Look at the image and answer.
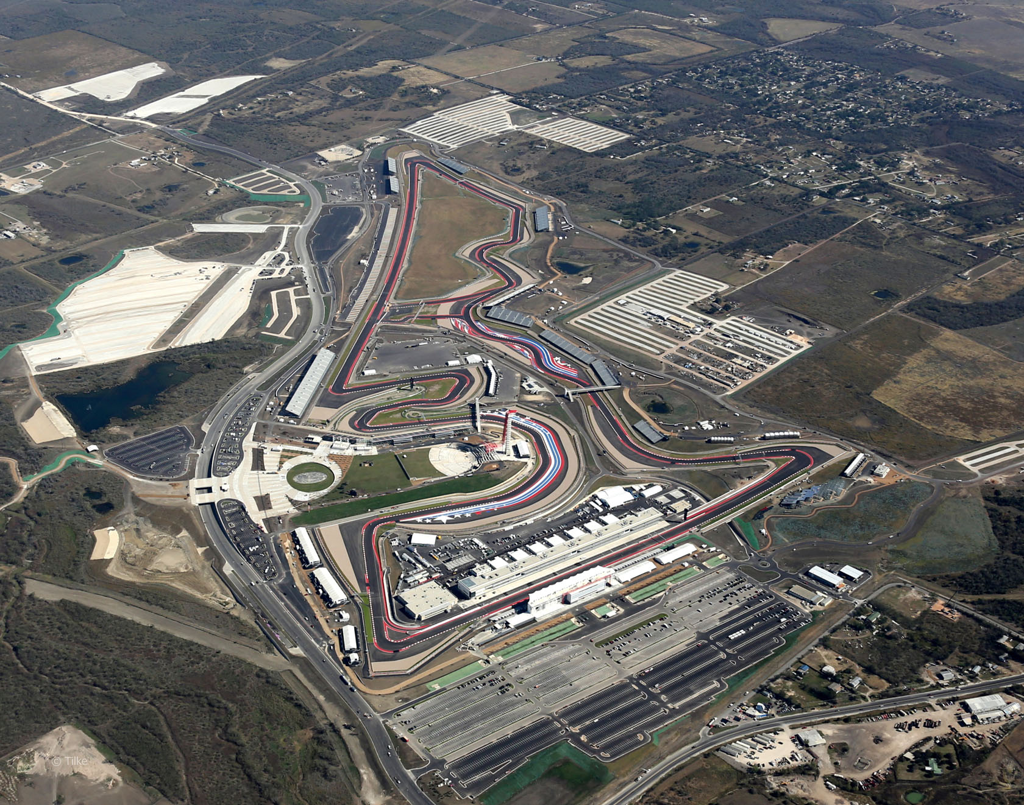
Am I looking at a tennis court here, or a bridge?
bridge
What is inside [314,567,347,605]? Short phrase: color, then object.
white tent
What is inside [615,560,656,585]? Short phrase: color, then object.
white tent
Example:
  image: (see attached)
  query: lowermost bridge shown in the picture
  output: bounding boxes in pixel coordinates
[185,477,218,509]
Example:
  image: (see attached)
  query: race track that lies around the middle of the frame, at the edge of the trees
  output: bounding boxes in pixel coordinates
[334,160,809,650]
